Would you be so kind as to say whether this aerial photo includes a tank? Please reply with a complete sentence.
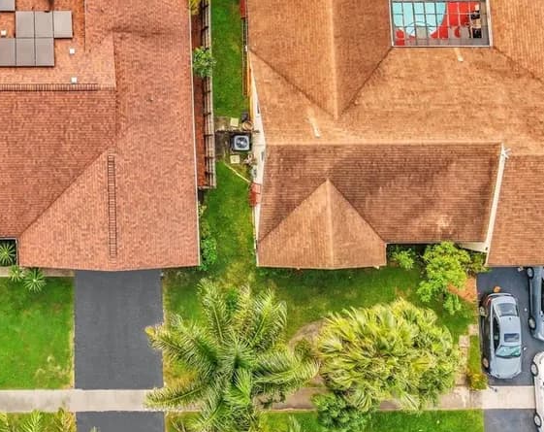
No, the scene contains no tank.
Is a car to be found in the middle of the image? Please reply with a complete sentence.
No, I see no car in the middle of the image.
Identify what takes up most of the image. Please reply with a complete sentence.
For the most part, this view shows buildings.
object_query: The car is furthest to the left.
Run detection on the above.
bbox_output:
[472,289,528,380]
